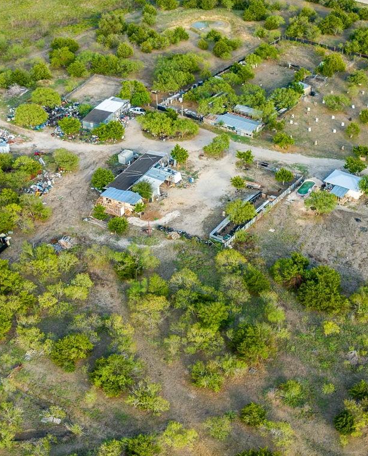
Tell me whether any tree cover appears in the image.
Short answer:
Yes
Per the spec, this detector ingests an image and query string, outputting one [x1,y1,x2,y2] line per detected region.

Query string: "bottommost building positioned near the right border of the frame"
[323,170,364,205]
